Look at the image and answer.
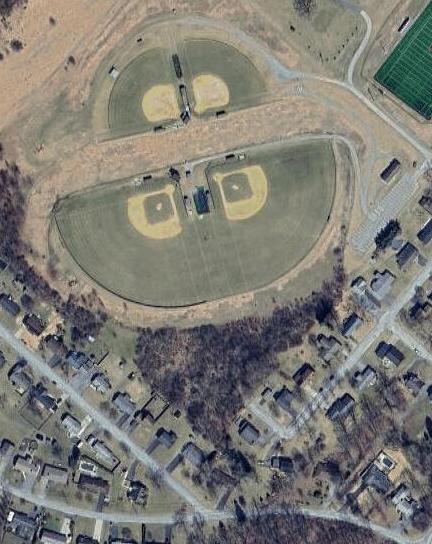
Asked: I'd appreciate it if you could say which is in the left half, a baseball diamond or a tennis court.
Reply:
baseball diamond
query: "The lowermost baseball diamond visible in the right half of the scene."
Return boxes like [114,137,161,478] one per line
[189,135,336,302]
